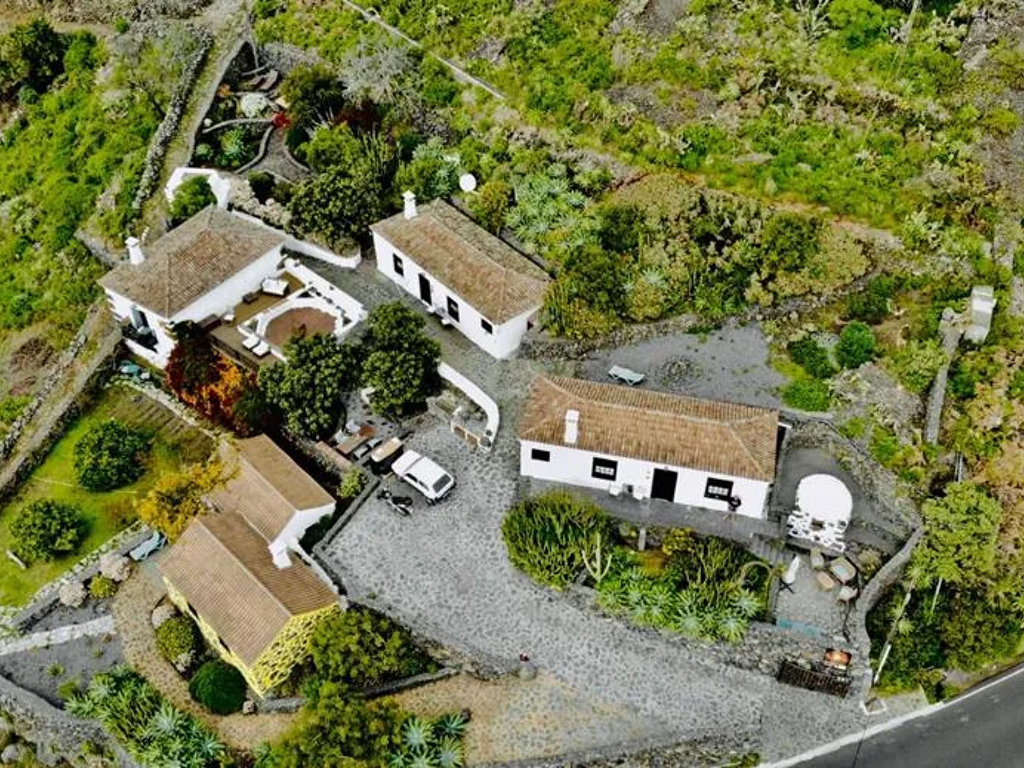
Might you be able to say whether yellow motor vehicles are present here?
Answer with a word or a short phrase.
No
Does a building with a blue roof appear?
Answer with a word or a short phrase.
No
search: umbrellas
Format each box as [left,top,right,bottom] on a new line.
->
[776,559,798,601]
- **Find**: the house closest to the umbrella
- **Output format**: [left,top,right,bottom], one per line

[518,372,781,514]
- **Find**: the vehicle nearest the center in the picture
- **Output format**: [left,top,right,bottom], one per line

[390,450,457,504]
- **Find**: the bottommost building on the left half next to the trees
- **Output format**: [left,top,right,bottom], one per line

[157,511,355,691]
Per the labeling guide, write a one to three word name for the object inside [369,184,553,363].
house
